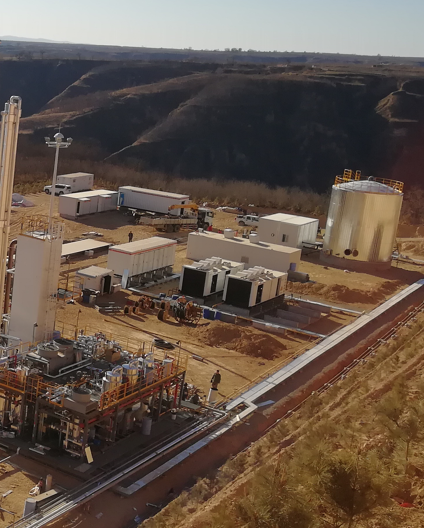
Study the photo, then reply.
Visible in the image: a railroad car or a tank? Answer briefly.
tank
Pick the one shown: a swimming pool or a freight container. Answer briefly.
freight container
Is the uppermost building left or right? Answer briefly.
left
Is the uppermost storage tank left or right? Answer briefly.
right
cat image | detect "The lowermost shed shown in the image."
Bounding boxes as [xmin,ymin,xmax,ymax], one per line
[74,262,126,293]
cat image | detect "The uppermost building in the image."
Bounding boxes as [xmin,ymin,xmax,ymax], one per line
[58,188,125,218]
